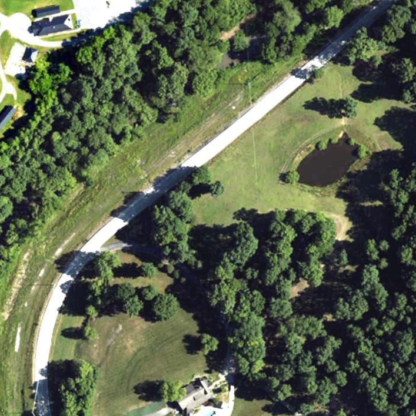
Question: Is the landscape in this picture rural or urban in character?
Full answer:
The area shown here is rural.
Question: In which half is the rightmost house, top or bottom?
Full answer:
The bottom half of the photo is where the rightmost house is.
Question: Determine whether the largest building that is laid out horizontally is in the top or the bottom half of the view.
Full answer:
It is in the top half that the largest building that is laid out horizontally appears.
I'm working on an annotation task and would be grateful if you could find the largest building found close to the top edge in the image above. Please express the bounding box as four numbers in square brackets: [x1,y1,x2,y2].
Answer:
[31,14,74,37]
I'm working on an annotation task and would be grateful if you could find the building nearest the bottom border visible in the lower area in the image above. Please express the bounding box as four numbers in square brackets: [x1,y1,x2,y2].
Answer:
[180,383,213,411]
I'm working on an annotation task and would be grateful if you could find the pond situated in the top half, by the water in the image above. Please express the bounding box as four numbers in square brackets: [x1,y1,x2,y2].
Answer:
[298,136,359,186]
